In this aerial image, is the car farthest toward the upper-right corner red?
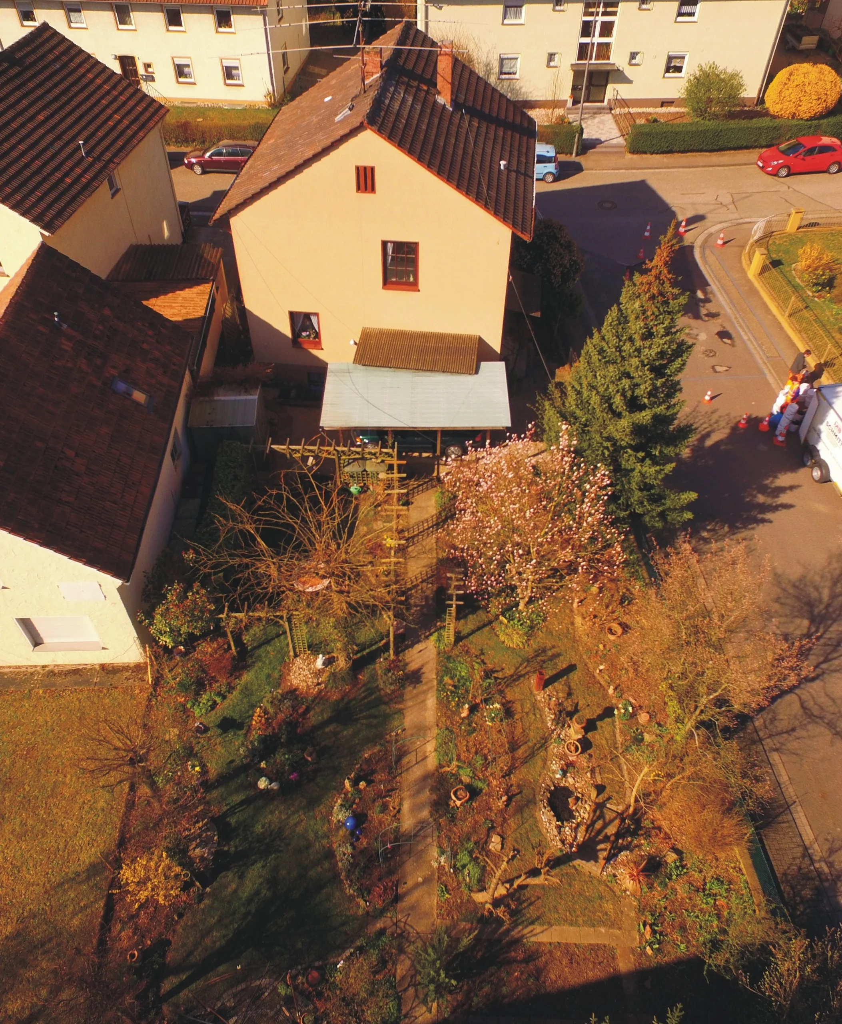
Yes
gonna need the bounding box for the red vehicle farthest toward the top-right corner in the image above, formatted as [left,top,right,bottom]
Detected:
[755,131,842,176]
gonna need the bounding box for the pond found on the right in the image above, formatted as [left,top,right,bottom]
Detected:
[536,759,593,857]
